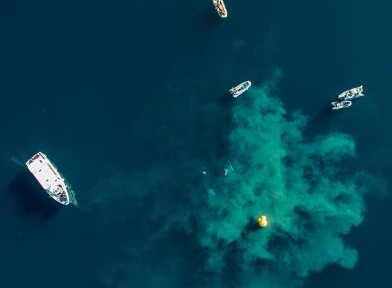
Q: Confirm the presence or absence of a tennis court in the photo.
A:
No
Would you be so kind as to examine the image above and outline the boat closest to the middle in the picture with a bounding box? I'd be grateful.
[228,81,251,96]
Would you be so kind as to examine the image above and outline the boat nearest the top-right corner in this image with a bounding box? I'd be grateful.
[338,82,366,98]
